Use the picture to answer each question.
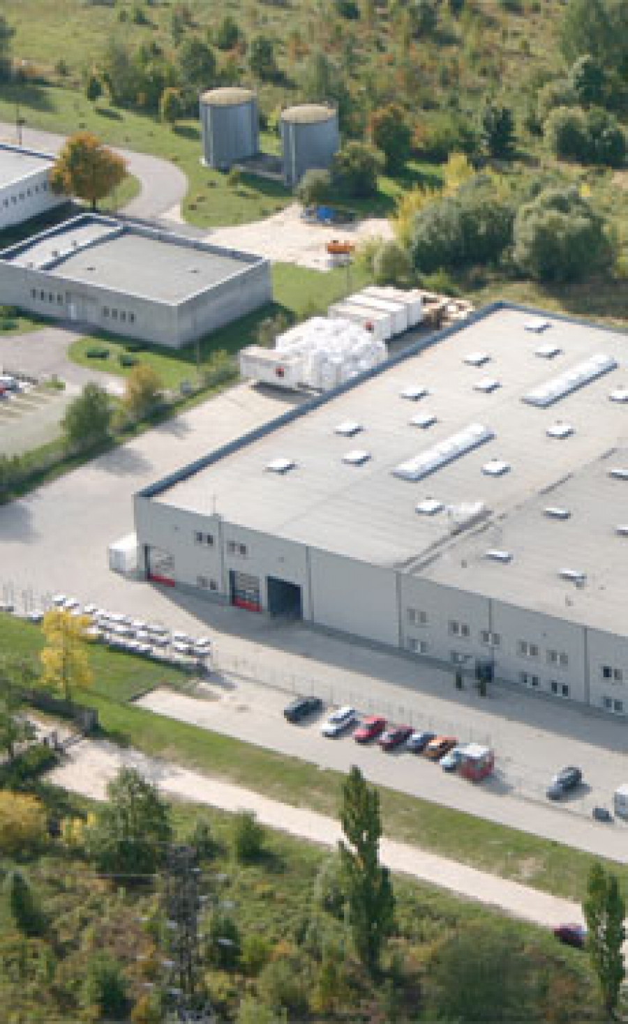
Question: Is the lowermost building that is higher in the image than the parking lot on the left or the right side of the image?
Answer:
left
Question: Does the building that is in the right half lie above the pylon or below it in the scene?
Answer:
above it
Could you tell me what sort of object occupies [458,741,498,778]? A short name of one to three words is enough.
van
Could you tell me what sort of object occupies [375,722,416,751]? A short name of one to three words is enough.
car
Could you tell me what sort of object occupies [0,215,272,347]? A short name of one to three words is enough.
building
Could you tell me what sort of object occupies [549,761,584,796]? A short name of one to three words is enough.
car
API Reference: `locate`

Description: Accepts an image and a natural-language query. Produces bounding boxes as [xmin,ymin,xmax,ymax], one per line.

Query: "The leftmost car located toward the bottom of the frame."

[278,688,327,720]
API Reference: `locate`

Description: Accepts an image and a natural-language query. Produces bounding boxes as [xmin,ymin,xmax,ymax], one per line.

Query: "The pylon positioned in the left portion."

[128,842,250,1024]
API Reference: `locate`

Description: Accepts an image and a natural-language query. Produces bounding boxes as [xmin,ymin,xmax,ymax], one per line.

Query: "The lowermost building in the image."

[130,298,628,722]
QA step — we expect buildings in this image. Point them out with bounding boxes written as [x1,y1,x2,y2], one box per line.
[0,140,68,229]
[130,298,628,722]
[0,215,272,347]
